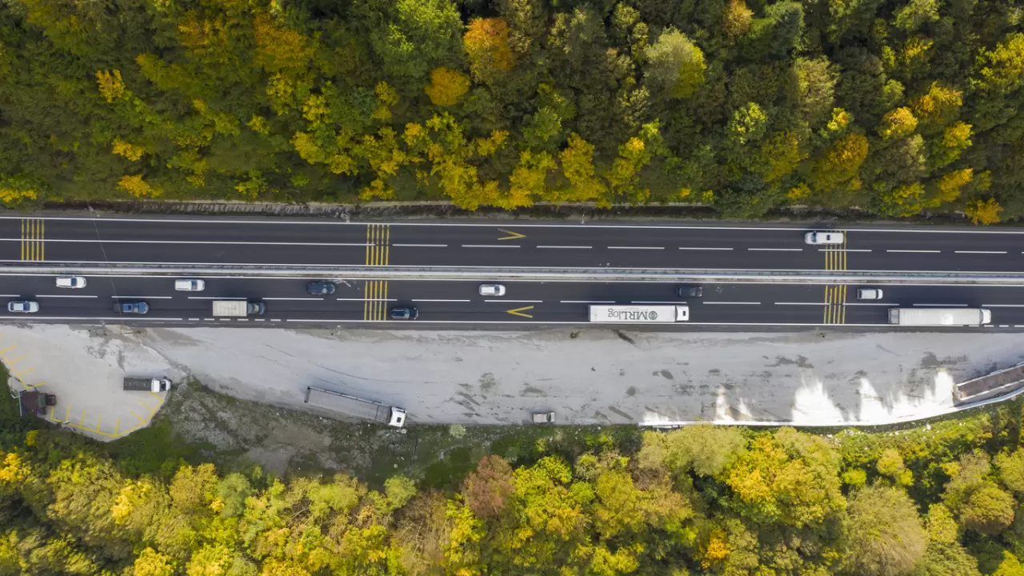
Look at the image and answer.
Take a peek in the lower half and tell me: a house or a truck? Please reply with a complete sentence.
What appears in the lower half is a truck.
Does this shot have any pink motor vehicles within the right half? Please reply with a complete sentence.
No, there is no pink motor vehicle within the right half.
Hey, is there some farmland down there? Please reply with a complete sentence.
No, the scene doesn't show any farmland.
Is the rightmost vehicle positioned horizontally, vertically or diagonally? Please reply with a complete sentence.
From this overhead view, the rightmost vehicle appears to run horizontally.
